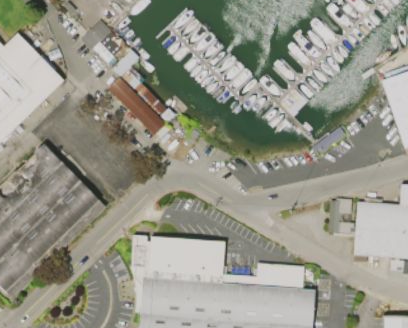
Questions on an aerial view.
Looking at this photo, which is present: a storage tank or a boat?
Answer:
boat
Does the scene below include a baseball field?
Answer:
No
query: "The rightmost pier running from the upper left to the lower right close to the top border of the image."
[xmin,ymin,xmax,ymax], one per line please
[156,8,244,102]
